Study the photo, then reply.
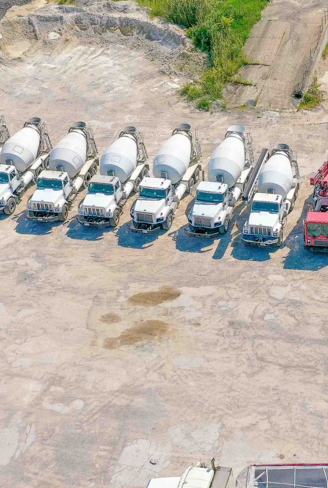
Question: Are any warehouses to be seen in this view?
No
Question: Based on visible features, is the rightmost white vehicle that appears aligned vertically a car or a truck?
truck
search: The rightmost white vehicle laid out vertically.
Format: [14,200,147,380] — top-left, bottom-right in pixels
[242,138,300,245]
